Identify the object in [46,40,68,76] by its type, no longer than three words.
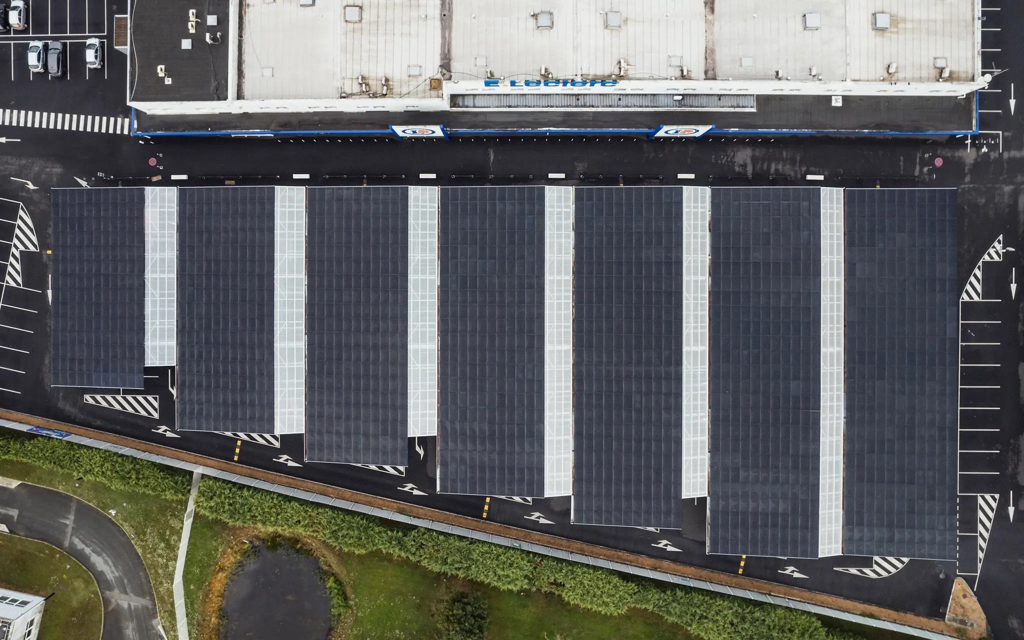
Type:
car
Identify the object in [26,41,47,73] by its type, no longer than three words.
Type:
car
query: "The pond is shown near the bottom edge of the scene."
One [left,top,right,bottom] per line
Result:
[218,541,334,640]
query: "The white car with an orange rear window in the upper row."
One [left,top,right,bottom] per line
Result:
[7,0,29,31]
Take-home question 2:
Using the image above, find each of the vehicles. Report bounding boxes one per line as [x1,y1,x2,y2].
[26,41,47,73]
[84,38,105,69]
[0,0,11,34]
[7,0,29,31]
[46,40,68,76]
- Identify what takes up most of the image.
buildings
